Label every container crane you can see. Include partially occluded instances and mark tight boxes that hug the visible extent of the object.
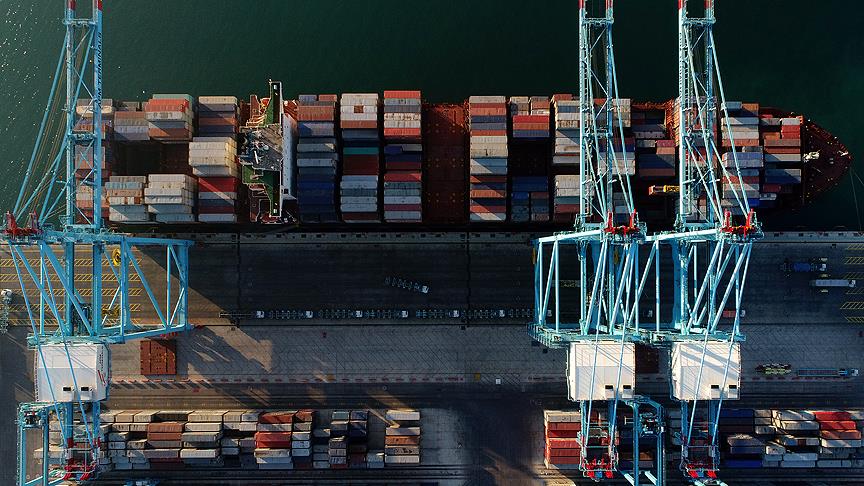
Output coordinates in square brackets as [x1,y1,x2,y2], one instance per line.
[6,0,203,483]
[615,395,666,486]
[518,0,647,483]
[11,395,83,486]
[599,0,764,483]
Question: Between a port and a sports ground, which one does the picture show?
port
